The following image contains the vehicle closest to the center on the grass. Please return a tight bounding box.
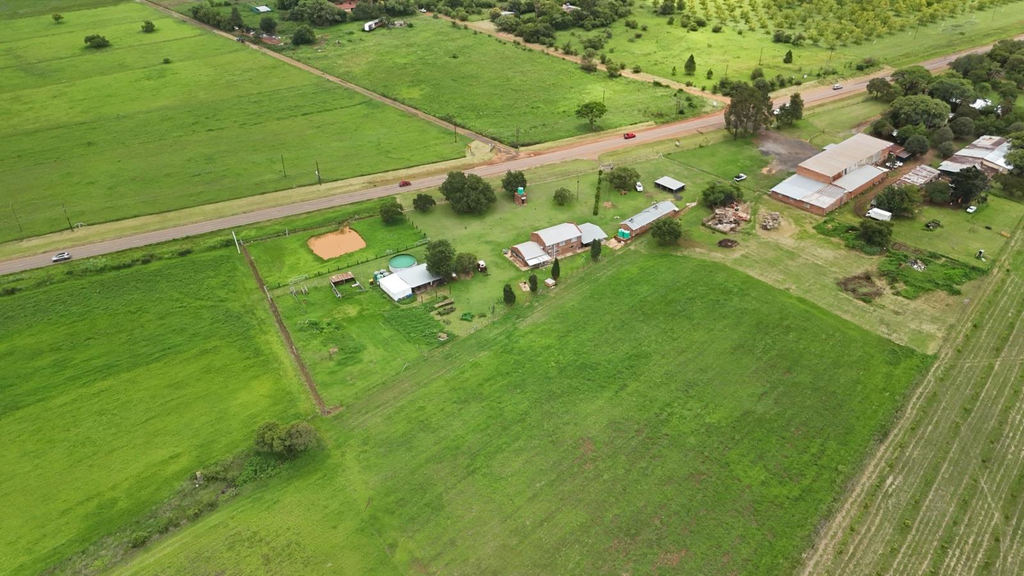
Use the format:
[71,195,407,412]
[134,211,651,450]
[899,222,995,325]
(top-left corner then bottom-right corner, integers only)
[478,257,492,274]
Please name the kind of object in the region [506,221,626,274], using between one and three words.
house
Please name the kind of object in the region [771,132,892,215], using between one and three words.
building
